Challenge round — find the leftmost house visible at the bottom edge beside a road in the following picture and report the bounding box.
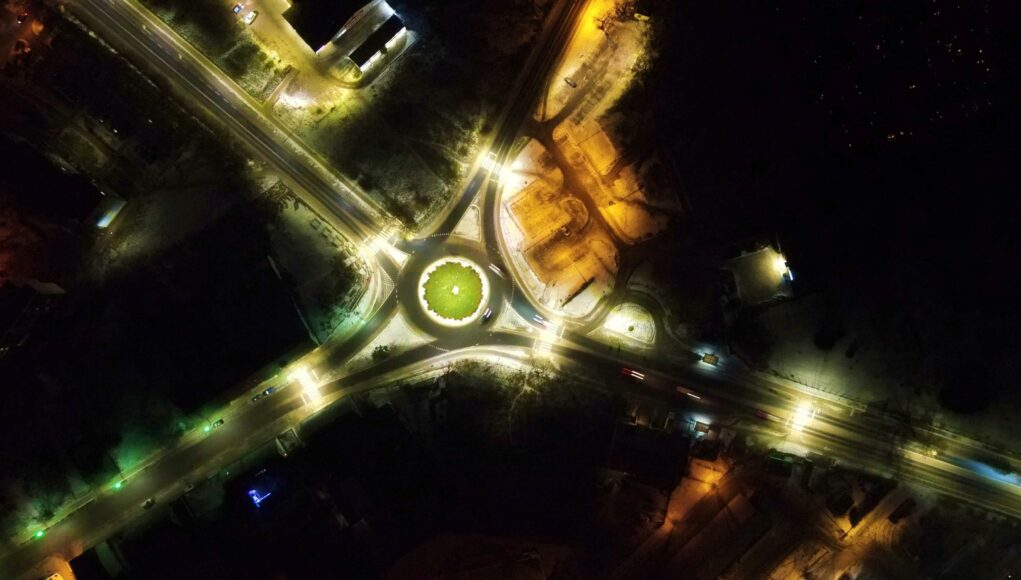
[68,537,131,580]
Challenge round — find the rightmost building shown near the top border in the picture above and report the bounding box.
[281,0,382,57]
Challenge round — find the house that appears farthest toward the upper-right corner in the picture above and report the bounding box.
[785,252,838,302]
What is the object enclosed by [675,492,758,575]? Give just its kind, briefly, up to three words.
house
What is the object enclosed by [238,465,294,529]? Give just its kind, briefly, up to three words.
house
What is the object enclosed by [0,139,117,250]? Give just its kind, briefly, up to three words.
warehouse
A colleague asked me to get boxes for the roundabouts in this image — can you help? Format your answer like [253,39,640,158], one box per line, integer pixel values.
[301,164,559,404]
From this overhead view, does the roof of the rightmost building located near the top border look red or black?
black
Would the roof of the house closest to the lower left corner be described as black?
Yes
